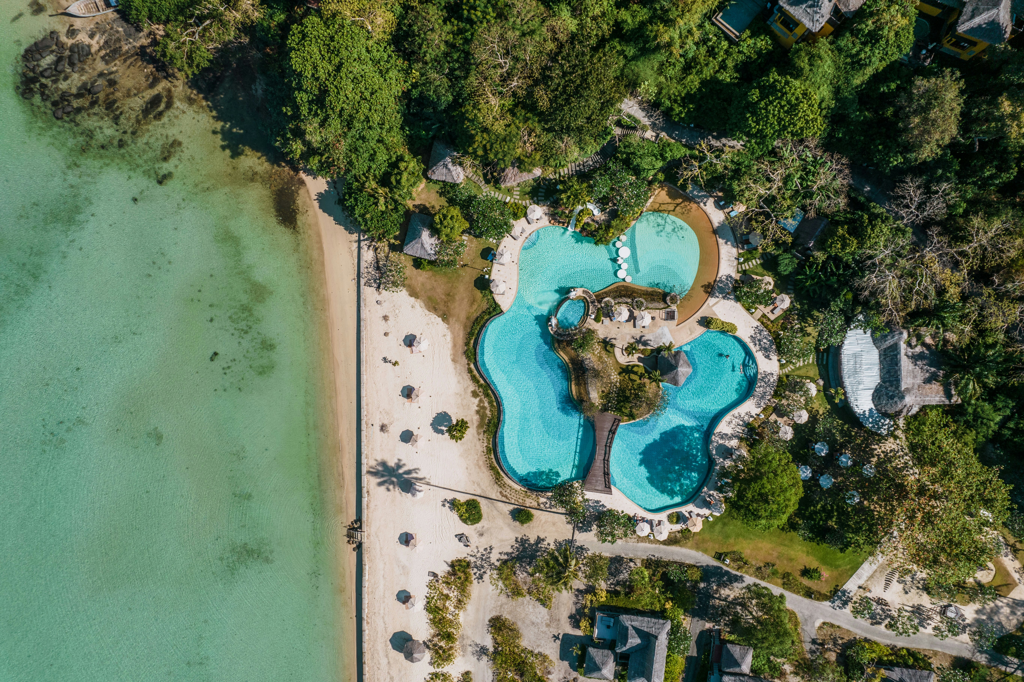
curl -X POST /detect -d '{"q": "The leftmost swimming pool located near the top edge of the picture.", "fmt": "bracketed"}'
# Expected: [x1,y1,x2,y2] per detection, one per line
[711,0,774,40]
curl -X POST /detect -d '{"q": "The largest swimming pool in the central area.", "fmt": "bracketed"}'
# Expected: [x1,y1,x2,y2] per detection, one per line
[479,211,758,513]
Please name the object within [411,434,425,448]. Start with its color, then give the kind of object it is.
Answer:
white umbrella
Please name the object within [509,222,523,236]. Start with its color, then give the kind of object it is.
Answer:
white umbrella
